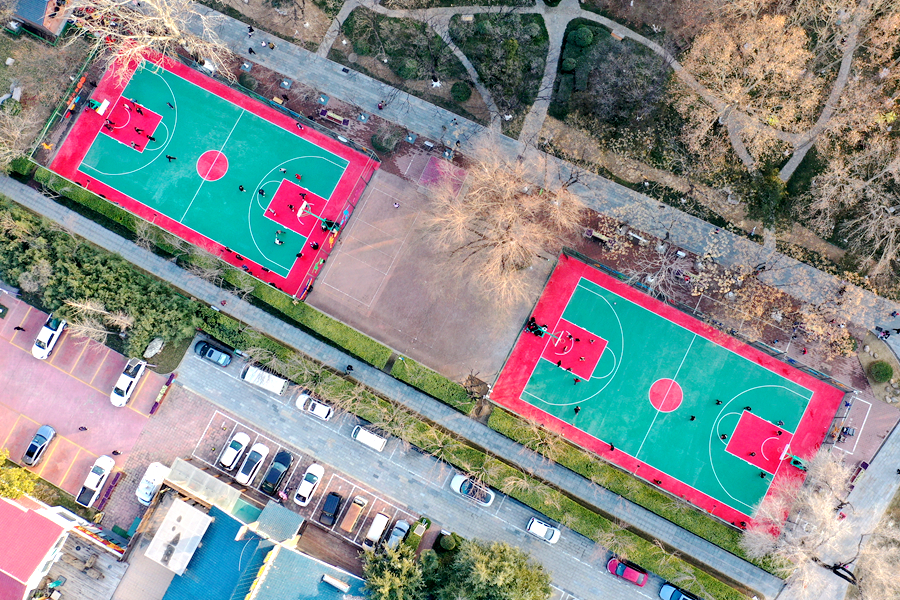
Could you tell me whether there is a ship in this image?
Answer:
No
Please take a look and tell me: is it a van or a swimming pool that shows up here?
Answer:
van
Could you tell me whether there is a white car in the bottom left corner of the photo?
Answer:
Yes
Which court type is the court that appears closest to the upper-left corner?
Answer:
basketball court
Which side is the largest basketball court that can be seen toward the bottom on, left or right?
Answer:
right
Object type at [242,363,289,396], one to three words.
van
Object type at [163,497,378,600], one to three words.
building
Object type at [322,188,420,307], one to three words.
sports court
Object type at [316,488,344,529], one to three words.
car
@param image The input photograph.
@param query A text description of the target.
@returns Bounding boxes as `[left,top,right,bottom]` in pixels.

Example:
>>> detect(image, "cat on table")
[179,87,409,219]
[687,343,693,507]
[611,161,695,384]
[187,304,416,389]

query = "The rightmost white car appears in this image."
[522,513,563,544]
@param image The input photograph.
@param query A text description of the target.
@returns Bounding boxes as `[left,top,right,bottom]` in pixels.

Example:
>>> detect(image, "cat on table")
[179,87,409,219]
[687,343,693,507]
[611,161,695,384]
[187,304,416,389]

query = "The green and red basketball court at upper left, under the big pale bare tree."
[50,38,379,302]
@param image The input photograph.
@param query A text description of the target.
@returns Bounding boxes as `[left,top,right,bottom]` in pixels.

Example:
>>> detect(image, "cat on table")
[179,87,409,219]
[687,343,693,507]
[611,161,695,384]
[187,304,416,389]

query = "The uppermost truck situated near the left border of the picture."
[34,314,69,359]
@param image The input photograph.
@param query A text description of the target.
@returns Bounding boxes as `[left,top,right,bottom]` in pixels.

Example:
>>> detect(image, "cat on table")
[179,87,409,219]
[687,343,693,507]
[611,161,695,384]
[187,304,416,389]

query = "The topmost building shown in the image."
[10,0,98,49]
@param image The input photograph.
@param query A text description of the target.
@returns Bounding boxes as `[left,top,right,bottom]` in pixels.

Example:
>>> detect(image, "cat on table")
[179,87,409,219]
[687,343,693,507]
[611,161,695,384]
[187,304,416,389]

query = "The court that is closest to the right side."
[834,397,872,454]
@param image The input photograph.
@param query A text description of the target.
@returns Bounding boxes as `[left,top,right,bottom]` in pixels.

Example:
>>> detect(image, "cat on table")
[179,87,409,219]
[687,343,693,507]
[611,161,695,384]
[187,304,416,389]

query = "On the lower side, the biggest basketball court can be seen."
[490,254,846,548]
